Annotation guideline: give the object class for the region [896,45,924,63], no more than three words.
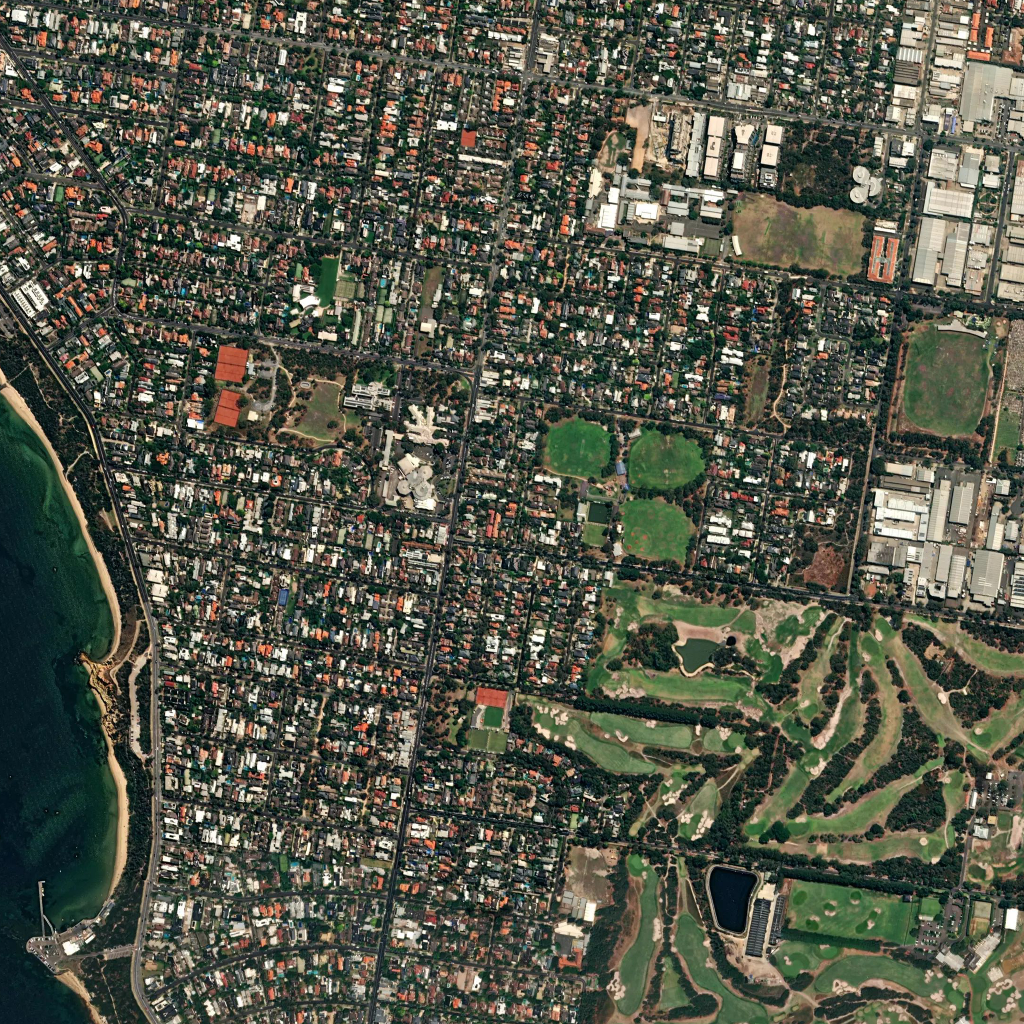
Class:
building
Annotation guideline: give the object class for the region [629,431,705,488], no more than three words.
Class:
sports field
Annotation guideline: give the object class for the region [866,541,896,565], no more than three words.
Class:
building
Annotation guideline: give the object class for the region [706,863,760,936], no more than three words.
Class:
pond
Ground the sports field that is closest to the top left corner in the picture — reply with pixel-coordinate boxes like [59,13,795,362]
[314,257,339,306]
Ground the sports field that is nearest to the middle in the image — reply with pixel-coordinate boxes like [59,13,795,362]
[546,418,611,476]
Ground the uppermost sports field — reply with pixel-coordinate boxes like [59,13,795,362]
[599,132,626,166]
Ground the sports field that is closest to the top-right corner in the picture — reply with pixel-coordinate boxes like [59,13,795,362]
[735,193,865,275]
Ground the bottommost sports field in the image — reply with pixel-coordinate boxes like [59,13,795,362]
[564,847,614,902]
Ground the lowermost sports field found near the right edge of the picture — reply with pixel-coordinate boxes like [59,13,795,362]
[904,330,989,435]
